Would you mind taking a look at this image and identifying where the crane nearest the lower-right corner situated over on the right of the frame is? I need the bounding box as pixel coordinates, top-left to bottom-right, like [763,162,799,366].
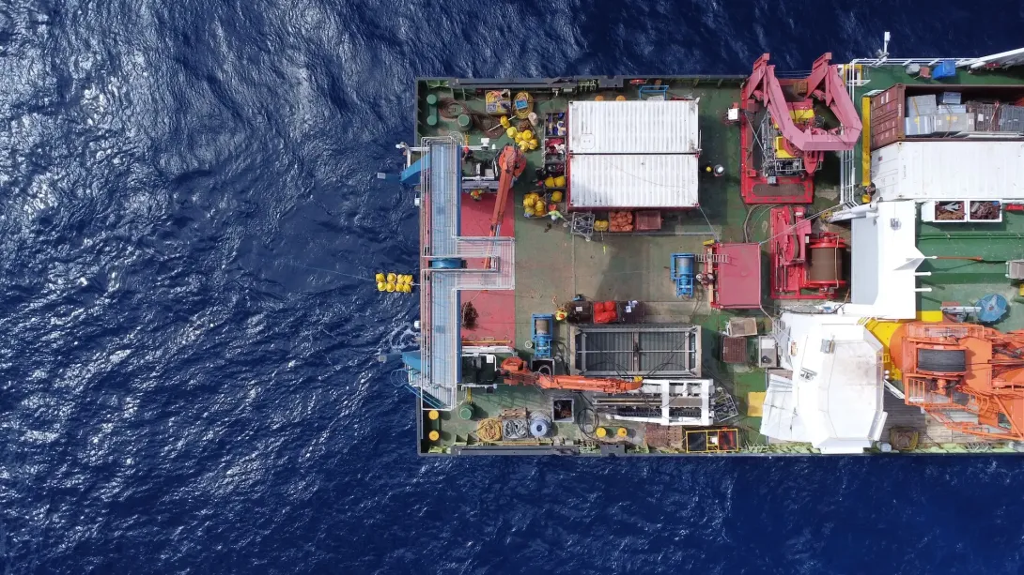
[887,322,1024,442]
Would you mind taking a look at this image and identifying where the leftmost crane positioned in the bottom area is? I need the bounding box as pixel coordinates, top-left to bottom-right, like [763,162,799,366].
[492,356,644,398]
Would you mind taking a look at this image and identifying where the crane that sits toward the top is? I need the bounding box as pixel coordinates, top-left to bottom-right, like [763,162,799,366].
[482,142,526,270]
